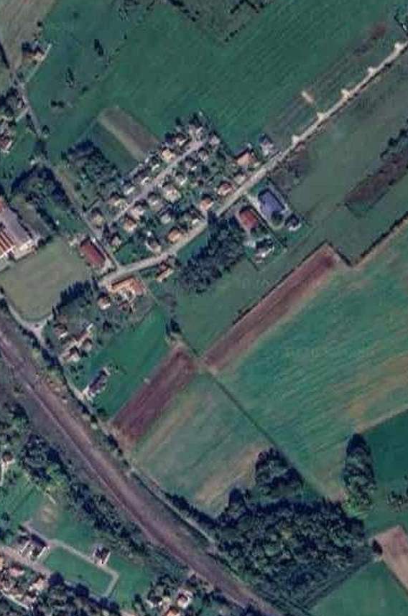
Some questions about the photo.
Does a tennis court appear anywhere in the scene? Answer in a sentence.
No, this view has no tennis court in it.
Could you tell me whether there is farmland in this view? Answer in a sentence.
Yes, the picture does contain farmland.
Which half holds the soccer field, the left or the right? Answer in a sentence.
You can find the soccer field on the left side of the picture.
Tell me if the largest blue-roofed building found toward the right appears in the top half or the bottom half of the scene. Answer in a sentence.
It is in the top half that the largest blue-roofed building found toward the right appears.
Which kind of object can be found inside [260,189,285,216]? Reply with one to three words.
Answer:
building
